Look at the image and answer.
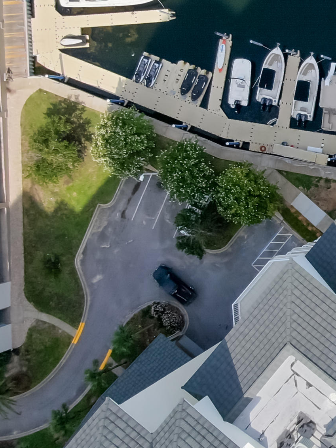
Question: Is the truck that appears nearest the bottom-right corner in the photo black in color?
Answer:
Yes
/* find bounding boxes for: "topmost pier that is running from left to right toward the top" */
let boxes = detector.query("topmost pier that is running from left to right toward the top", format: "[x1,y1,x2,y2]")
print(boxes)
[57,9,169,28]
